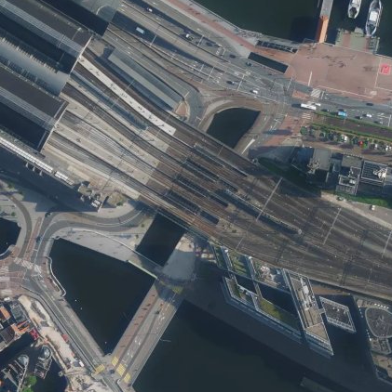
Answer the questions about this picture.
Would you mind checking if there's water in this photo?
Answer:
Yes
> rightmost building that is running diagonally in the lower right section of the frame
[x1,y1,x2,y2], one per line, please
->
[320,298,358,335]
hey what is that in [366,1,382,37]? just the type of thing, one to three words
ship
